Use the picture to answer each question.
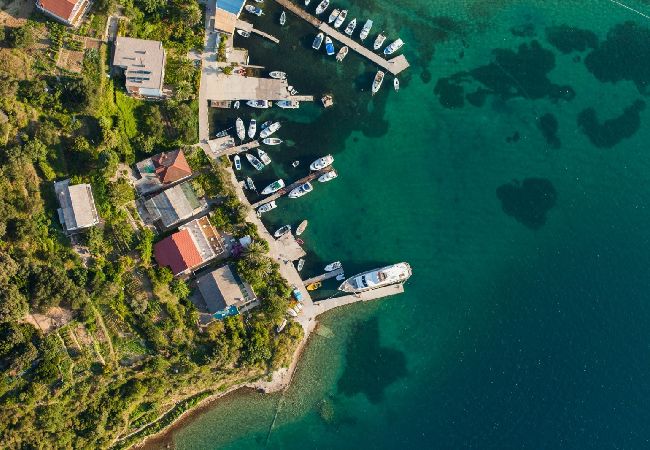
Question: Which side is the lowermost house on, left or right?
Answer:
left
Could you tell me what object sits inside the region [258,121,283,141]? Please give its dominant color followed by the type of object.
white boat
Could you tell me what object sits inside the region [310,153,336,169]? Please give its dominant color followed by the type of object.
white boat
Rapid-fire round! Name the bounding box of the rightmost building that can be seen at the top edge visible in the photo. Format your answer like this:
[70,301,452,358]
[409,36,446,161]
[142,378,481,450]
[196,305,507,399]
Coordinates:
[214,0,248,36]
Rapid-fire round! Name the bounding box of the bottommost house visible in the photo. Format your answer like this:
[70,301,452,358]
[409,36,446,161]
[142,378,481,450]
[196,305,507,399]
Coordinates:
[187,261,259,322]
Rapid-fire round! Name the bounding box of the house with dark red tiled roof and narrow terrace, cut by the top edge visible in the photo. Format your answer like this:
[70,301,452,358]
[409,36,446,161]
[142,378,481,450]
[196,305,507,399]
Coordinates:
[35,0,102,31]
